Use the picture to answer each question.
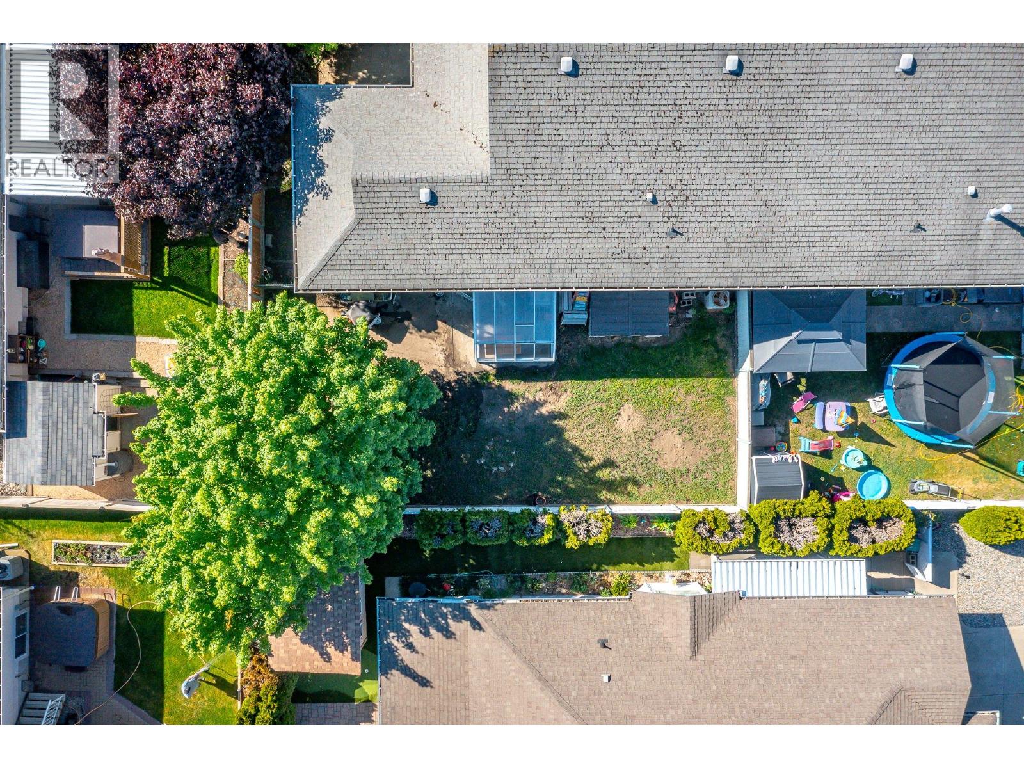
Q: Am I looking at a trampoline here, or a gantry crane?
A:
trampoline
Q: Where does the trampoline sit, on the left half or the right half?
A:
right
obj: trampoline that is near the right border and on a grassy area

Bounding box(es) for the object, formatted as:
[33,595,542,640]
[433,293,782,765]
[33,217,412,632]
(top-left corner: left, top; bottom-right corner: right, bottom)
[875,332,1021,448]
